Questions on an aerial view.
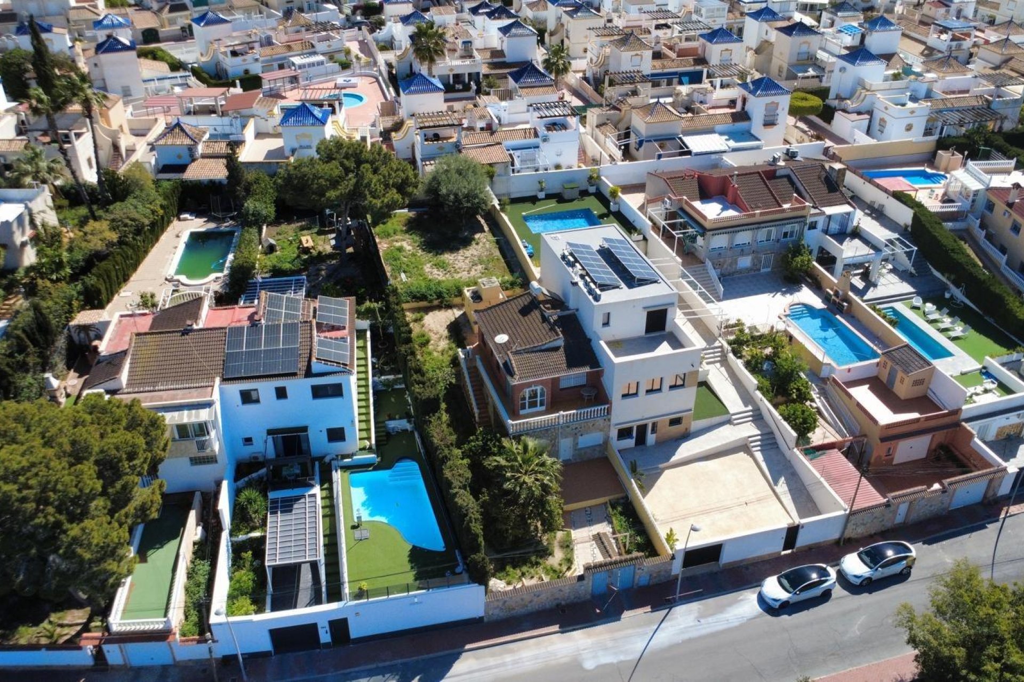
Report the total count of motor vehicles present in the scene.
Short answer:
2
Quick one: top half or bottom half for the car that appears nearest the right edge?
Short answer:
bottom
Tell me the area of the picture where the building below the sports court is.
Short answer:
bottom left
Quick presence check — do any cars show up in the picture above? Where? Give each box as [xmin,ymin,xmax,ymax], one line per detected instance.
[839,538,920,585]
[758,559,841,608]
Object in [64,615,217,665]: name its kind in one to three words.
building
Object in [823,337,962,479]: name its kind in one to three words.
house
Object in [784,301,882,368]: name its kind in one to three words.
swimming pool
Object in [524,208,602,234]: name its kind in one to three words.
swimming pool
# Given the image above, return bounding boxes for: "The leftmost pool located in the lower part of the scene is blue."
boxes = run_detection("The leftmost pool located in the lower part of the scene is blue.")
[349,459,446,553]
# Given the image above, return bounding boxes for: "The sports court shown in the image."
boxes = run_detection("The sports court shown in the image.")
[121,492,192,620]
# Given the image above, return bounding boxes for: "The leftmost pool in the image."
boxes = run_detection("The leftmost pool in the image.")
[165,228,240,283]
